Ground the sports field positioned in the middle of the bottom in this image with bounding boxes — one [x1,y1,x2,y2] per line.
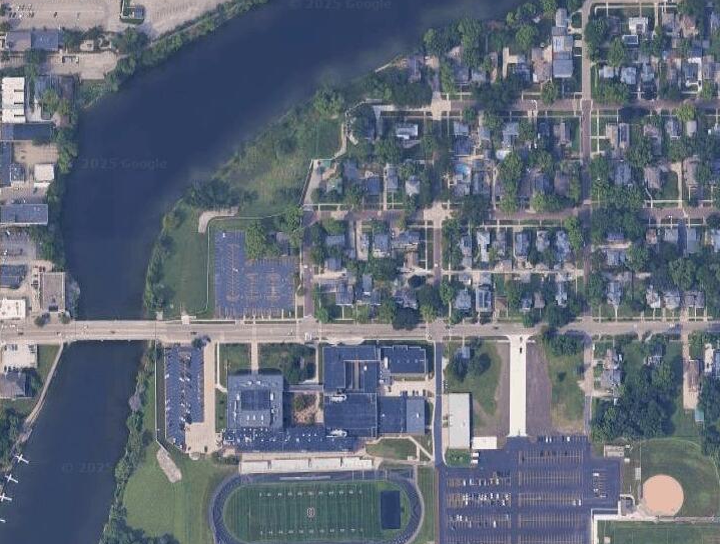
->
[225,481,412,543]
